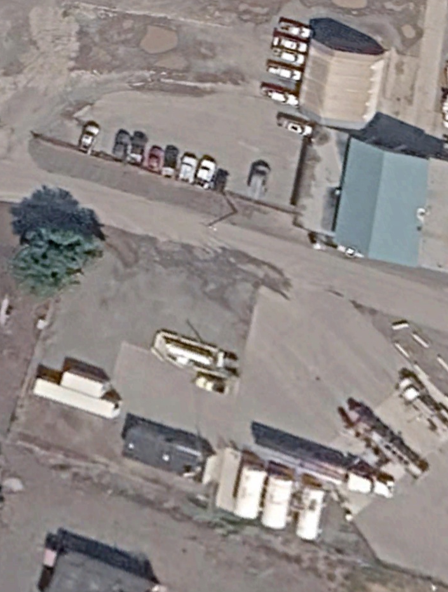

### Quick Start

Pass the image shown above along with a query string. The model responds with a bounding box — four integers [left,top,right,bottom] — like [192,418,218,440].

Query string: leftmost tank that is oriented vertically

[236,469,266,516]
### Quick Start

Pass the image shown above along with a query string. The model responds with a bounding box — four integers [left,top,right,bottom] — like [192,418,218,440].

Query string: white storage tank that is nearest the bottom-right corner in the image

[295,490,324,538]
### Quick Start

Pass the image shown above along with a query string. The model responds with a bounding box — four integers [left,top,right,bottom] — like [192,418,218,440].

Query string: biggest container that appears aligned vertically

[216,448,244,510]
